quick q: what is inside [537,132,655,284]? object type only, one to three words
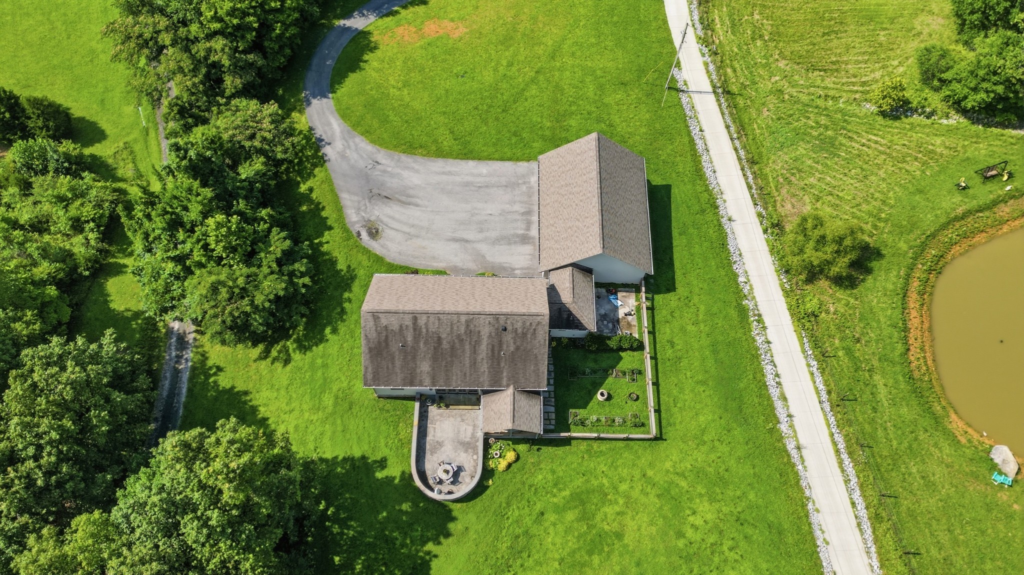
building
